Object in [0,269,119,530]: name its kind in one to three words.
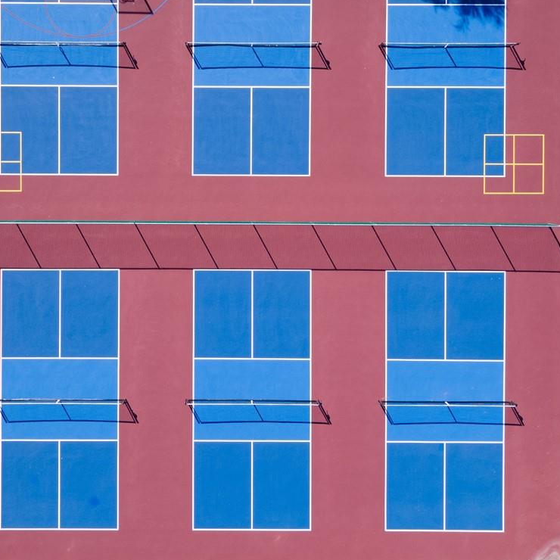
sports court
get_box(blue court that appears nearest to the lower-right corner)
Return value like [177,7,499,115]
[385,271,506,533]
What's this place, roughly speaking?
sports ground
